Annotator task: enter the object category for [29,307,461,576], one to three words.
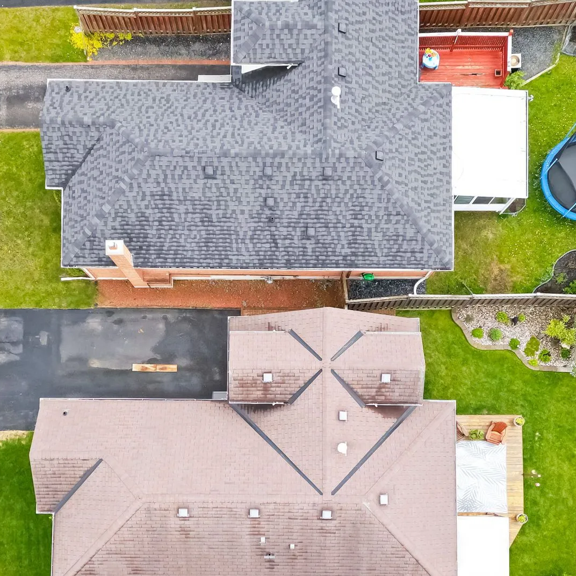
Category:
house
